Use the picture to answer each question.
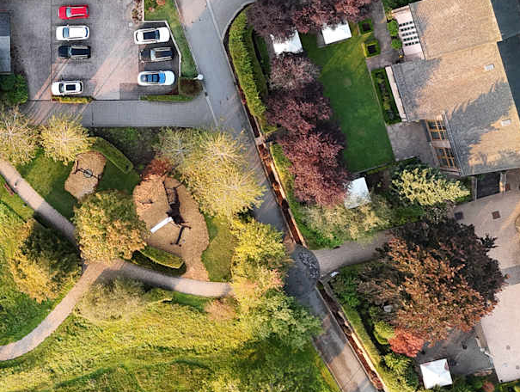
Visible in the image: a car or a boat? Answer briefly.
car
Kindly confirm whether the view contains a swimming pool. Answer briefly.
No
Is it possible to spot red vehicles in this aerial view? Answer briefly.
Yes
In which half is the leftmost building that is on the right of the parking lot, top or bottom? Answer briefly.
top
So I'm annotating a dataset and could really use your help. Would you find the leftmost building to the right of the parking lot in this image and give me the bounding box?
[265,29,303,58]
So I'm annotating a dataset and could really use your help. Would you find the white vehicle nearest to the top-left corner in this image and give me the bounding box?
[56,25,89,41]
